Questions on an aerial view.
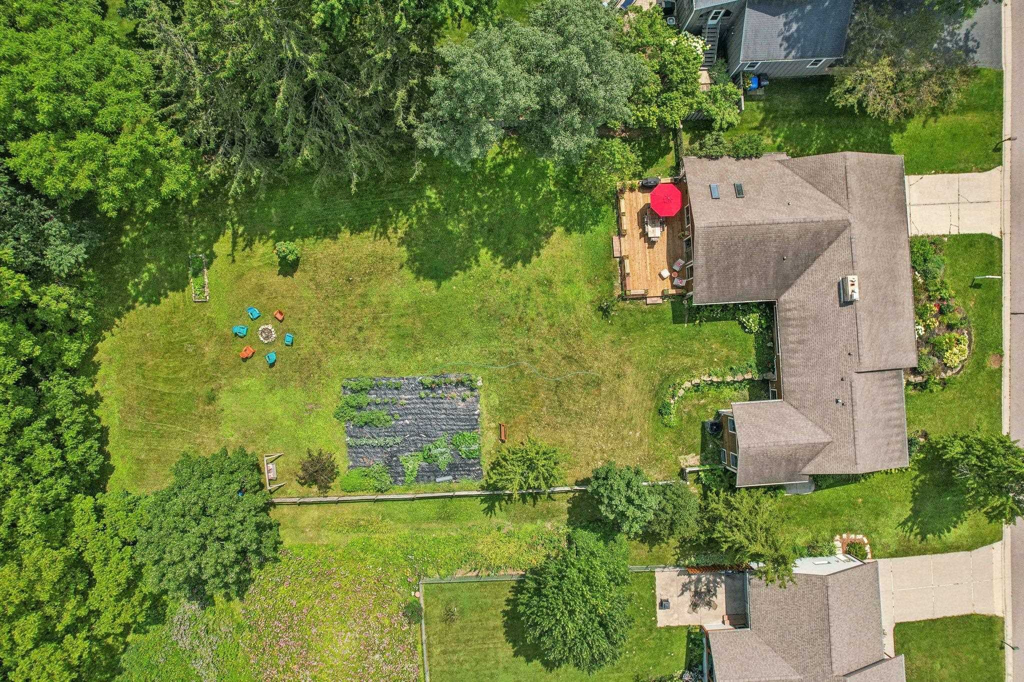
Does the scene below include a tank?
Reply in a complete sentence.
No, the frame has no tank in it.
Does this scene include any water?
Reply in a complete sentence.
No, there is no water in the image.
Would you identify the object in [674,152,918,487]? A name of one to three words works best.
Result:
house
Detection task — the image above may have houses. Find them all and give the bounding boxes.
[682,0,851,78]
[702,552,908,682]
[674,152,918,487]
